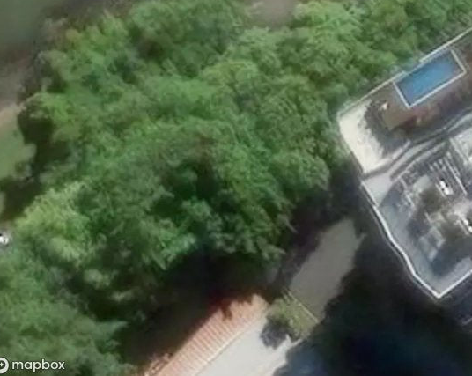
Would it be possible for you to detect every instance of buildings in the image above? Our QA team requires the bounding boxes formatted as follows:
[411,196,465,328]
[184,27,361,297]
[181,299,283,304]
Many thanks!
[152,290,311,376]
[334,28,472,318]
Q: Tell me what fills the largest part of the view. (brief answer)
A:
trees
